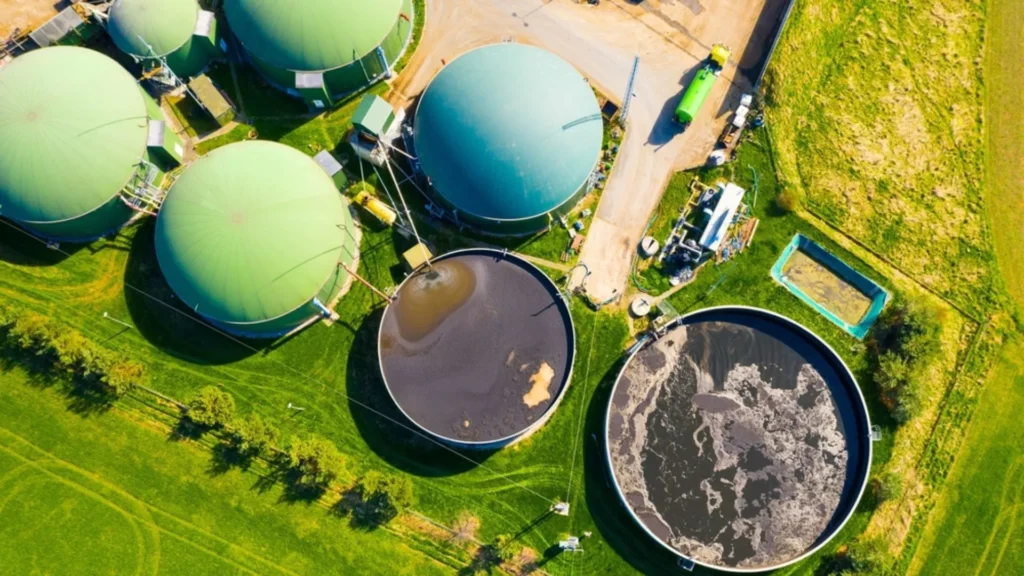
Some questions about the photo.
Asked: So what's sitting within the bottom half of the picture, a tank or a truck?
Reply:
tank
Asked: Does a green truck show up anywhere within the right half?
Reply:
Yes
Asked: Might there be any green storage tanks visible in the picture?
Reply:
Yes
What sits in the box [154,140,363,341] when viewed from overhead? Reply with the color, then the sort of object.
green storage tank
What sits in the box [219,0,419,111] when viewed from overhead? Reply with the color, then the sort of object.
green storage tank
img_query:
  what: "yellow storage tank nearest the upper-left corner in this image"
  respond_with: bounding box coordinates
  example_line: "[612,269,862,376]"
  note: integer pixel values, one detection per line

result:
[352,187,398,223]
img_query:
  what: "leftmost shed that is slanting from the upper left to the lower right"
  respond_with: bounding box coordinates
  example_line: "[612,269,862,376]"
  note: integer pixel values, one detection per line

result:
[188,73,241,128]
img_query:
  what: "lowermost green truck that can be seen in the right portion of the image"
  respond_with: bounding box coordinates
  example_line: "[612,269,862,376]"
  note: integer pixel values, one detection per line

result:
[668,42,733,131]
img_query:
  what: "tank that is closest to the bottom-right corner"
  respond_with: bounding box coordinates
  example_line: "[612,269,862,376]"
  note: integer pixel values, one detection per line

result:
[605,302,886,576]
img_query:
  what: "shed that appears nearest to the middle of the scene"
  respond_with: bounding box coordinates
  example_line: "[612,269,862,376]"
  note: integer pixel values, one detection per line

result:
[402,243,432,273]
